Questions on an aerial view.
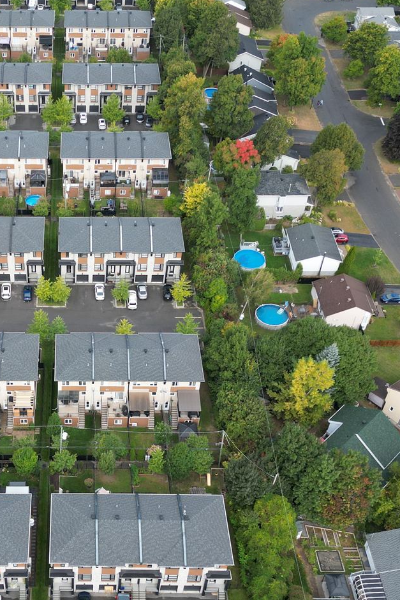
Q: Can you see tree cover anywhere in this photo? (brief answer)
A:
Yes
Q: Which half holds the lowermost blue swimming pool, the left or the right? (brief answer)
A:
right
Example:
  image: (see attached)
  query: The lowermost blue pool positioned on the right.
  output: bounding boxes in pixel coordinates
[254,303,290,331]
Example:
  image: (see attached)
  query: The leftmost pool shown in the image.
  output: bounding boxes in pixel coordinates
[25,195,41,208]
